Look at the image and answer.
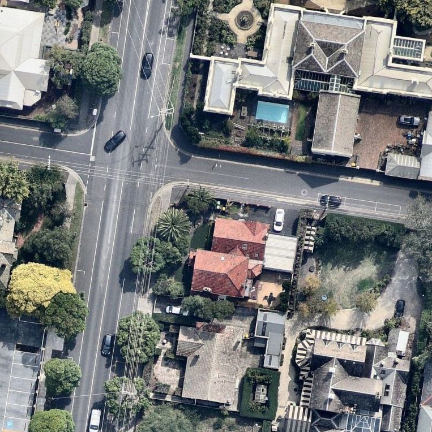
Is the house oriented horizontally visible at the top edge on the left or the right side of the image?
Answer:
right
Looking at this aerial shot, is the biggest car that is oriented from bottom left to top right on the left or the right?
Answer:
left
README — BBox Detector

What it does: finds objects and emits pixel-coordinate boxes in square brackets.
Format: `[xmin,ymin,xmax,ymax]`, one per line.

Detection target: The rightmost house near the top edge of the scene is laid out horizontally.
[187,1,432,117]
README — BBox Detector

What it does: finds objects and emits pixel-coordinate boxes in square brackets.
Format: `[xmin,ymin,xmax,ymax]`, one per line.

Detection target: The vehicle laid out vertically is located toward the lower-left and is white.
[87,409,101,432]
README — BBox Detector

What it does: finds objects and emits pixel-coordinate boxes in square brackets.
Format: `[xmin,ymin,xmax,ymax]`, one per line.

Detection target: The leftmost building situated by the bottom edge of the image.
[175,324,248,412]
